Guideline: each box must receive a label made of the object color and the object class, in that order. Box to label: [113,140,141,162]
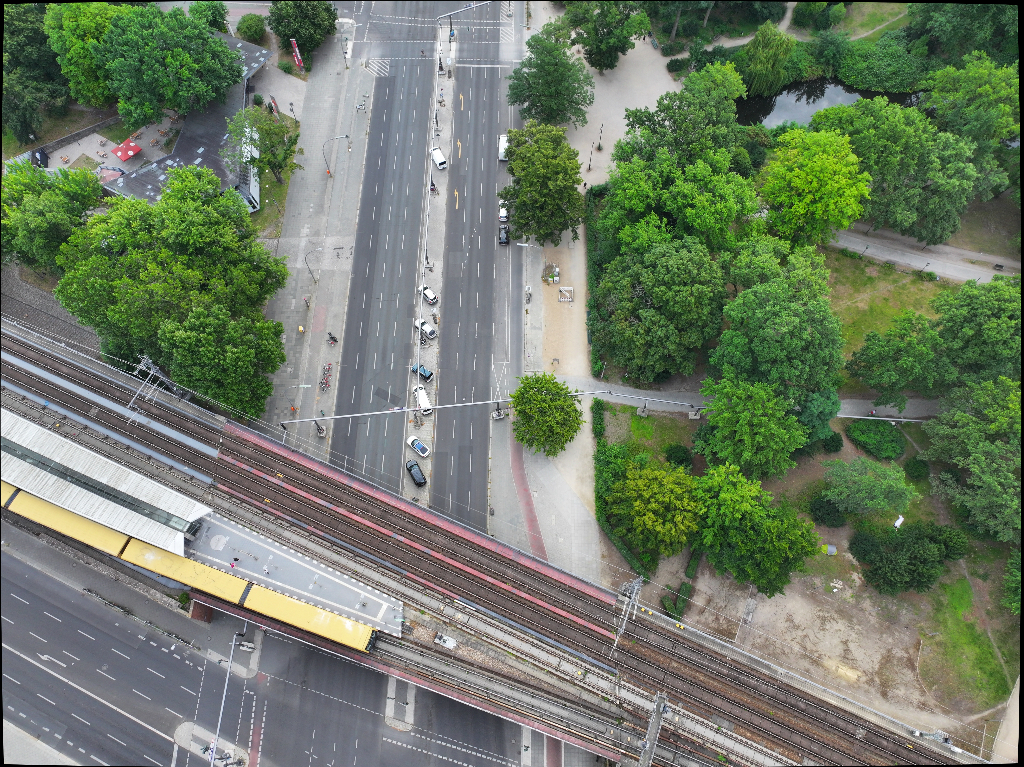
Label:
red umbrella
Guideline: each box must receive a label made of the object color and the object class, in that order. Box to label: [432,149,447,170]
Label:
white vehicle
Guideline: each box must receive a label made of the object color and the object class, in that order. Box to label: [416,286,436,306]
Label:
white car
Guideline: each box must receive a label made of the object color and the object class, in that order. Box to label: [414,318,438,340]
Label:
white car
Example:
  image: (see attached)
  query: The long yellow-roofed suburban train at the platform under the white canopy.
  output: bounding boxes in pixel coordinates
[0,481,381,655]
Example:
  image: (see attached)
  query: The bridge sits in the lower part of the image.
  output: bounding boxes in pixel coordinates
[0,316,999,767]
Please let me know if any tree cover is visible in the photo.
Yes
